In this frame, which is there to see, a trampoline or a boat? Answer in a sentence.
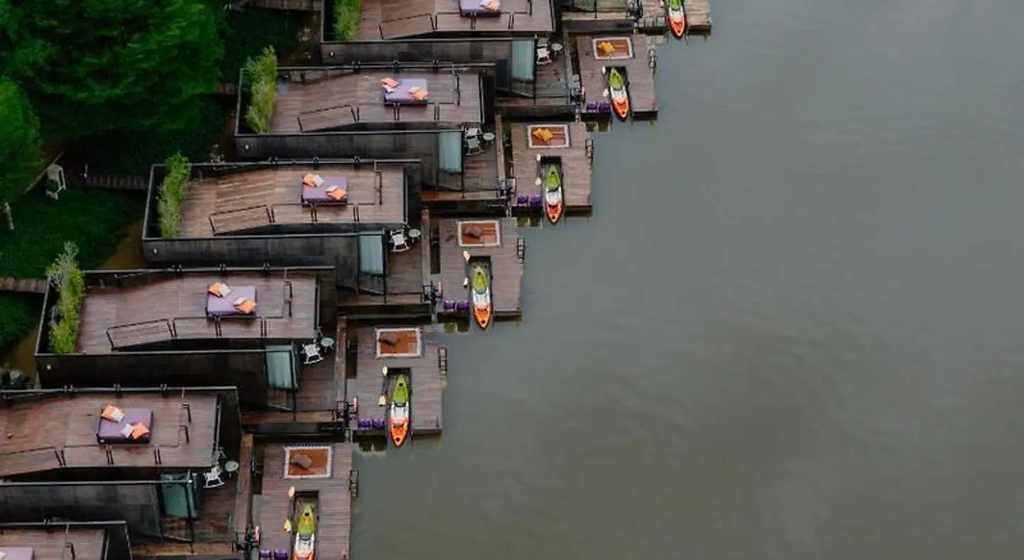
Of the two, only a boat appears.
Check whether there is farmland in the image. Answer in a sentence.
No, farmland can't be seen anywhere here.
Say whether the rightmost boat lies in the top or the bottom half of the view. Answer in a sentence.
The rightmost boat sits in the top half of the picture.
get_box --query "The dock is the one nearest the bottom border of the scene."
[249,442,350,560]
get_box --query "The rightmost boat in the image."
[665,0,686,40]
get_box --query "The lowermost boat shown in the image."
[292,498,318,560]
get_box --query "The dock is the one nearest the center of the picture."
[431,217,522,322]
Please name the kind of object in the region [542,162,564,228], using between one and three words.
boat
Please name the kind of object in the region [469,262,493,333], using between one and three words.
boat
